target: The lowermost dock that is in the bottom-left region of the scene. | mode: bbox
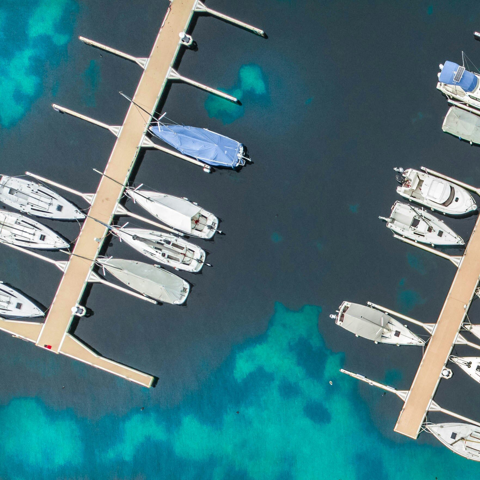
[58,333,155,387]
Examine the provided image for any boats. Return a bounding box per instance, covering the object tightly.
[420,412,480,461]
[449,348,480,384]
[441,107,480,149]
[57,246,194,301]
[0,174,91,232]
[115,90,252,168]
[76,212,208,271]
[430,56,480,111]
[0,282,52,329]
[0,207,76,262]
[327,301,434,364]
[385,168,480,221]
[89,168,222,240]
[379,199,472,260]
